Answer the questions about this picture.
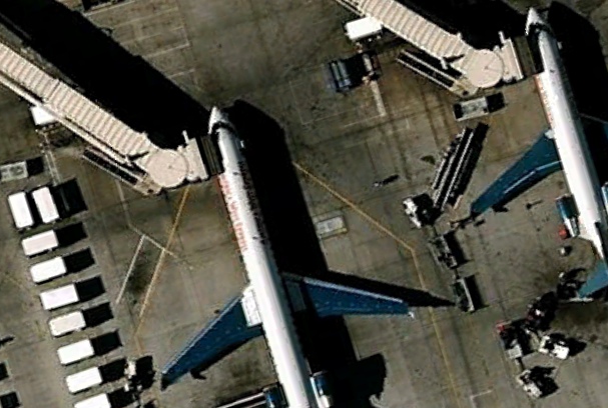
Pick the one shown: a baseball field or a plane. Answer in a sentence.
There is a plane in the scene.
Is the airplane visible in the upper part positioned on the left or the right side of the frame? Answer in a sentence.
You can find the airplane visible in the upper part on the right side of the picture.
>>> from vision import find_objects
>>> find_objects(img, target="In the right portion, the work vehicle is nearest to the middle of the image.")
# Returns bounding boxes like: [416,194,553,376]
[401,197,423,225]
